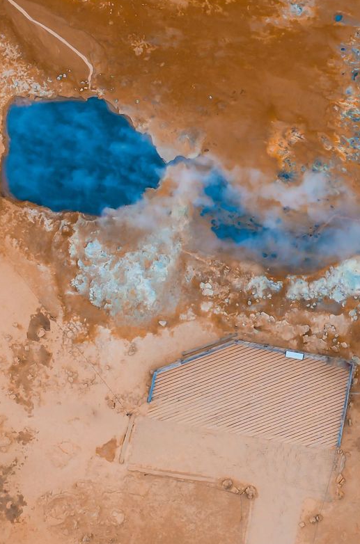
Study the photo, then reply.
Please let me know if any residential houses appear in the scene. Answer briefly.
No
